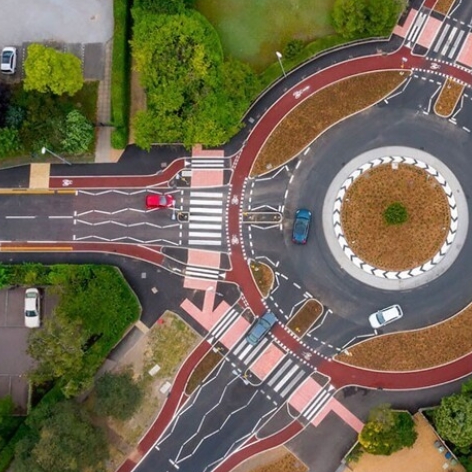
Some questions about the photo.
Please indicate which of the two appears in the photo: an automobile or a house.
automobile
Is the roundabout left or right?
right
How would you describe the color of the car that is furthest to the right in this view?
white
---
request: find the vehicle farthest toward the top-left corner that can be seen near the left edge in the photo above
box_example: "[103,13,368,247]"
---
[0,47,19,76]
